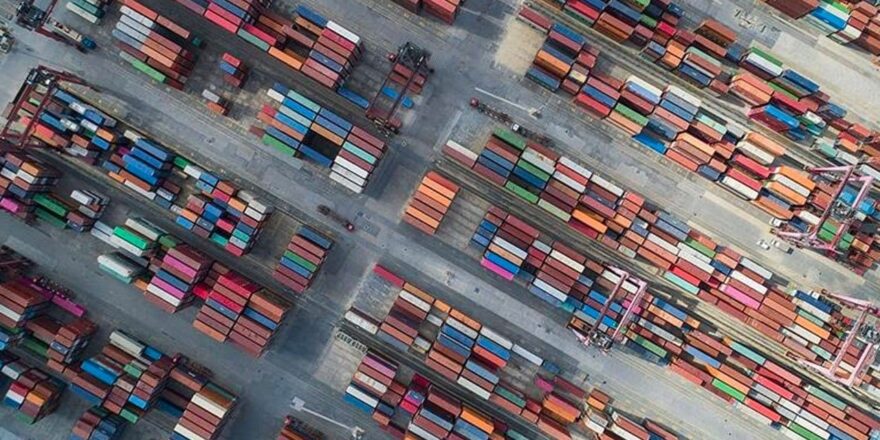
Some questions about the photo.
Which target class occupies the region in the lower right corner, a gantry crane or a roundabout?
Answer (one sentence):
You can see a gantry crane in the lower right corner.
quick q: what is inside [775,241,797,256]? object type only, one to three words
vehicle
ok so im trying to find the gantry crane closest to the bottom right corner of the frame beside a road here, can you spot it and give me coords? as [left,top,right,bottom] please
[785,288,880,387]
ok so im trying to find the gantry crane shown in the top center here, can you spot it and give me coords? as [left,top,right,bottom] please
[364,47,429,138]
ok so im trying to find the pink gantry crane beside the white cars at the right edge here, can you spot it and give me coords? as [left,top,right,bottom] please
[775,161,880,251]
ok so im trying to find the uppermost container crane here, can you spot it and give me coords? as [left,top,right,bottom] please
[14,0,85,50]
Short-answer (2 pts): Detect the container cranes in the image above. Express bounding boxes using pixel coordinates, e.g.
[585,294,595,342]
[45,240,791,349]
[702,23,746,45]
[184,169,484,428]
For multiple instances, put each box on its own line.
[364,47,429,138]
[785,288,880,387]
[0,68,99,157]
[14,0,85,50]
[775,161,880,251]
[565,261,650,354]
